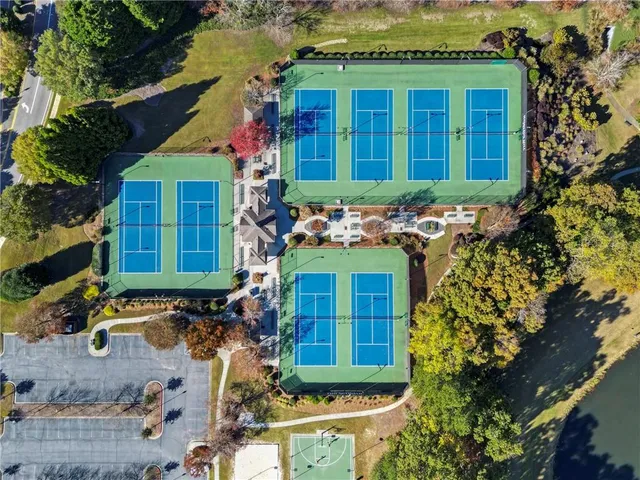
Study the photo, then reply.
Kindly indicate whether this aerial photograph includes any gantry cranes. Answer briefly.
No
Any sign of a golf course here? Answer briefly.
No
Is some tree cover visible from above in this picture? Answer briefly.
Yes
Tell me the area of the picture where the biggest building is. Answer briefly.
center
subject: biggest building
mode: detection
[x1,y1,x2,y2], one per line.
[238,185,276,266]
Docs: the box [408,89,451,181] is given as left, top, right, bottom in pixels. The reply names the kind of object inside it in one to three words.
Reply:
tennis court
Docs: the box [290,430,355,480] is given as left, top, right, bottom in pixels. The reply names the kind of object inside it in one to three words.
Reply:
basketball court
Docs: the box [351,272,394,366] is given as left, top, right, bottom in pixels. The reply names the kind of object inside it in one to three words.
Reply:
tennis court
